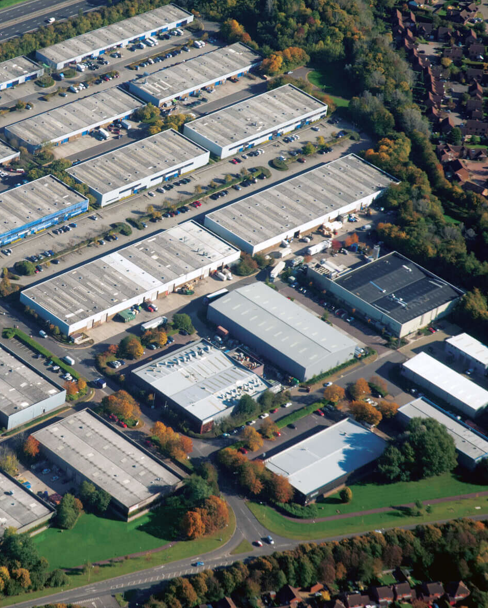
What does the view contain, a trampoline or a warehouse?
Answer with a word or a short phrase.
warehouse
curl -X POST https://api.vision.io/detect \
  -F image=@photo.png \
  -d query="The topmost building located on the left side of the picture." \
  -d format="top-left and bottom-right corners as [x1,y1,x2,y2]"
[36,3,193,69]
